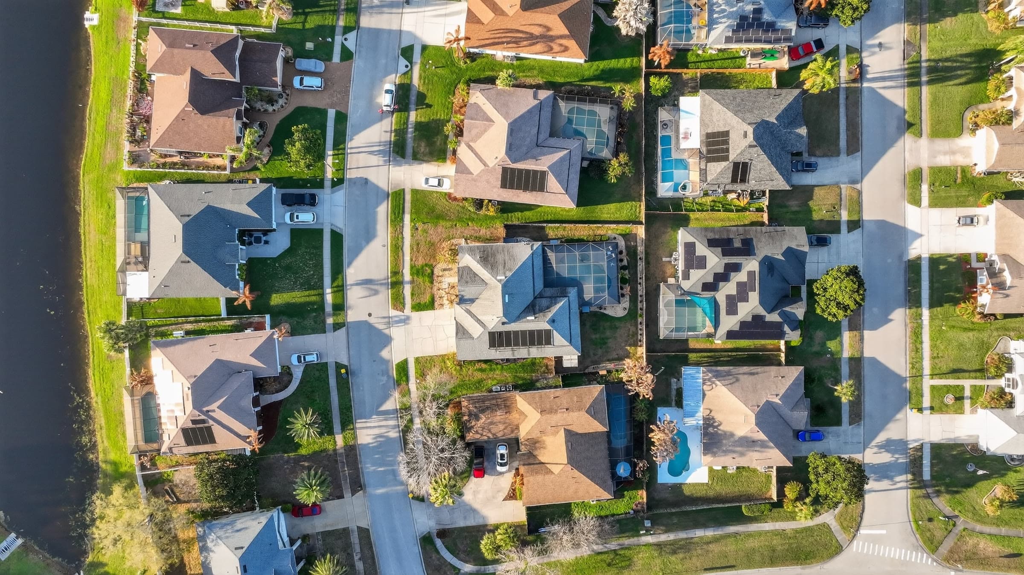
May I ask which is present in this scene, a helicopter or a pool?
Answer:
pool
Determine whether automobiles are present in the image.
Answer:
Yes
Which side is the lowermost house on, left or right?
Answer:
left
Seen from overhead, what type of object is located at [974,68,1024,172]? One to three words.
house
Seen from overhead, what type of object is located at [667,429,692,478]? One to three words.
swimming pool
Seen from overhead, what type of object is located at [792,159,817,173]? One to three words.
car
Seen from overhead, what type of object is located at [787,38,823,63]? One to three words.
truck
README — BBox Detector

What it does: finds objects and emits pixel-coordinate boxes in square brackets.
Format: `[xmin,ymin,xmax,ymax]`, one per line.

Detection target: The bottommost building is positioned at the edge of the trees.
[196,507,306,575]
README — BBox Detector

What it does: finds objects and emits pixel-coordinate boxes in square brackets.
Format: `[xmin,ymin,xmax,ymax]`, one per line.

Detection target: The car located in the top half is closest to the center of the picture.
[421,176,451,190]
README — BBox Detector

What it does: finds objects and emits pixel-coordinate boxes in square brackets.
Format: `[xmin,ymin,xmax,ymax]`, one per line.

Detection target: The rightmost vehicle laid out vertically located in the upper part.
[381,84,397,114]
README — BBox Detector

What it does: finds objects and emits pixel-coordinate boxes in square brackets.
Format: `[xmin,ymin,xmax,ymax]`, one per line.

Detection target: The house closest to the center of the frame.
[455,243,581,359]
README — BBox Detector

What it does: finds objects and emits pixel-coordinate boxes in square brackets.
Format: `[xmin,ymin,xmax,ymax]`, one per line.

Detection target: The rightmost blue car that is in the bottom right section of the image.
[796,429,822,442]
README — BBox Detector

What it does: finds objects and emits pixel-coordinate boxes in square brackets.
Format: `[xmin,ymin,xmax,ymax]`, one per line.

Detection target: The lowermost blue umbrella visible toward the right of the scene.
[616,462,631,478]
